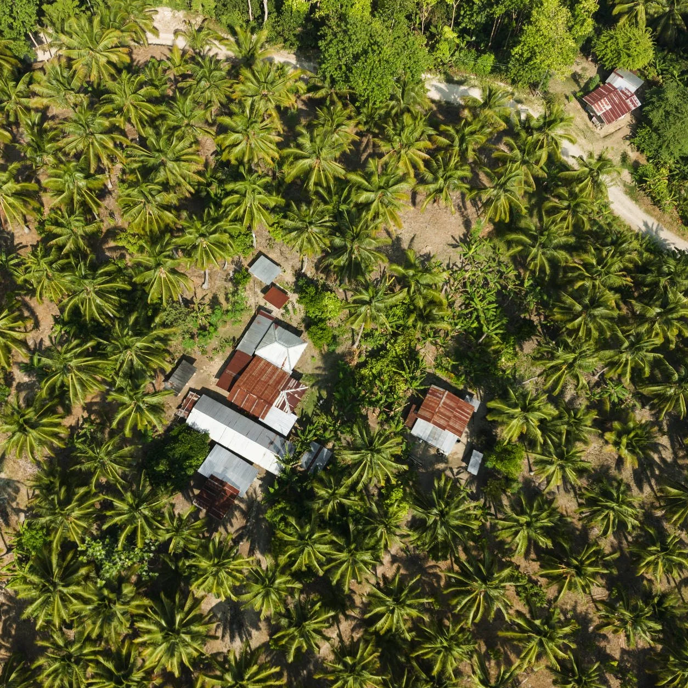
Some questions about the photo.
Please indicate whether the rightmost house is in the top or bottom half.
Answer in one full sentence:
It is in the top half that the rightmost house appears.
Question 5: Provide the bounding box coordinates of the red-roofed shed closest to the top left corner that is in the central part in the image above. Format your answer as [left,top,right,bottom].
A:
[263,286,289,313]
